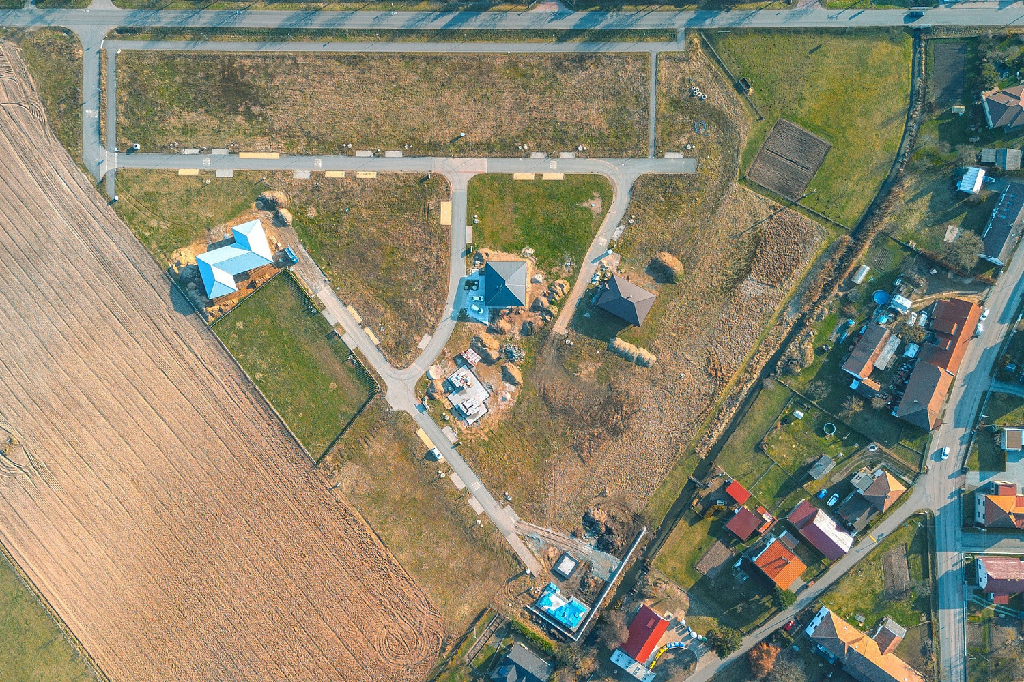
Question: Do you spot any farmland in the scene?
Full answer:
Yes, there's farmland in this view.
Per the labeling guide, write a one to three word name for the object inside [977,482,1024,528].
house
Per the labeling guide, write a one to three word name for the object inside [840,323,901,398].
house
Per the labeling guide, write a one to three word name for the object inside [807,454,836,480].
shed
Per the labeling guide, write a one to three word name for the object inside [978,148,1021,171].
shed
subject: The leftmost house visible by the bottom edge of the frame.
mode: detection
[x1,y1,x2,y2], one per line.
[492,641,550,682]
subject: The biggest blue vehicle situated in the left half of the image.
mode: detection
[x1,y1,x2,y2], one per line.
[282,245,298,264]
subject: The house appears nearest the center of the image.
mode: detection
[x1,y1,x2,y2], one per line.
[486,261,526,306]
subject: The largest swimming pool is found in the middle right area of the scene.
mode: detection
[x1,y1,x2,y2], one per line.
[873,289,891,305]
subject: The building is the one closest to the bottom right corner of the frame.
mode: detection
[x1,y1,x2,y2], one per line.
[976,556,1024,605]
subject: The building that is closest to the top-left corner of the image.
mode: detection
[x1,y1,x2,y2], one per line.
[196,219,275,299]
